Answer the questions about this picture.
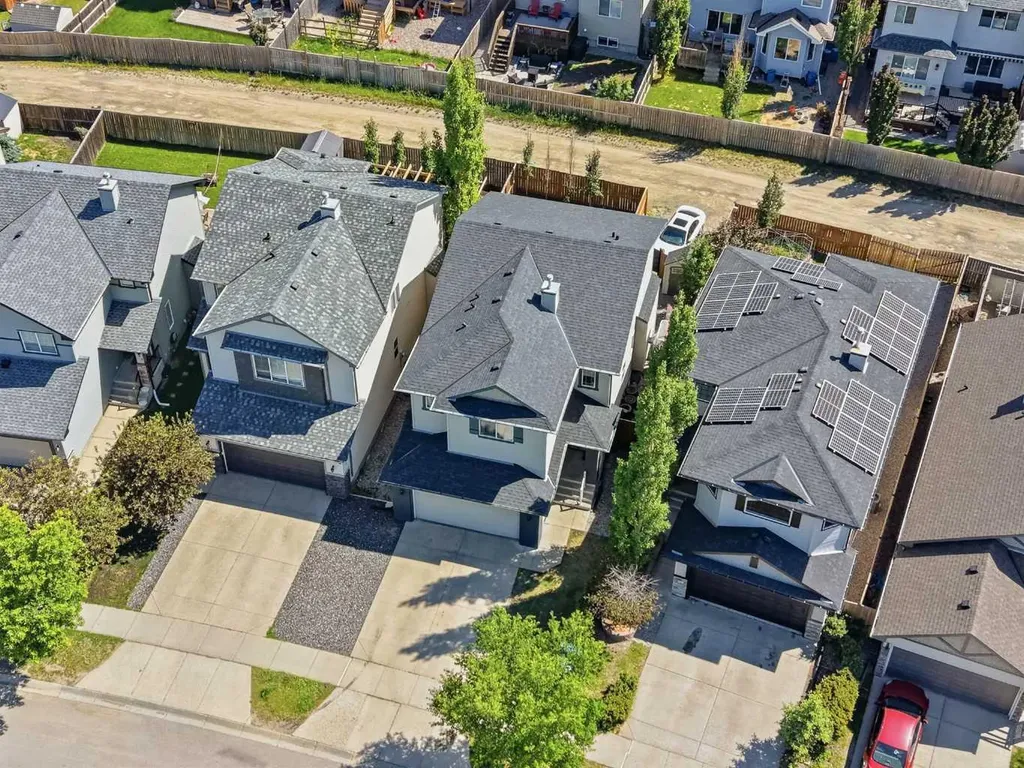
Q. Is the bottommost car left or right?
right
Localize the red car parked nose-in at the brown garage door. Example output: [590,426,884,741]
[862,675,930,768]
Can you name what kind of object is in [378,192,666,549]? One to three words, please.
house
